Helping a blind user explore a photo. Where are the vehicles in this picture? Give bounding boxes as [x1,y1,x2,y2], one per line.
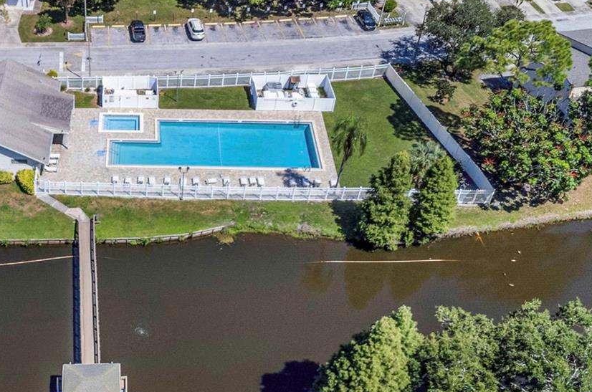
[130,19,145,41]
[188,19,205,38]
[355,10,378,30]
